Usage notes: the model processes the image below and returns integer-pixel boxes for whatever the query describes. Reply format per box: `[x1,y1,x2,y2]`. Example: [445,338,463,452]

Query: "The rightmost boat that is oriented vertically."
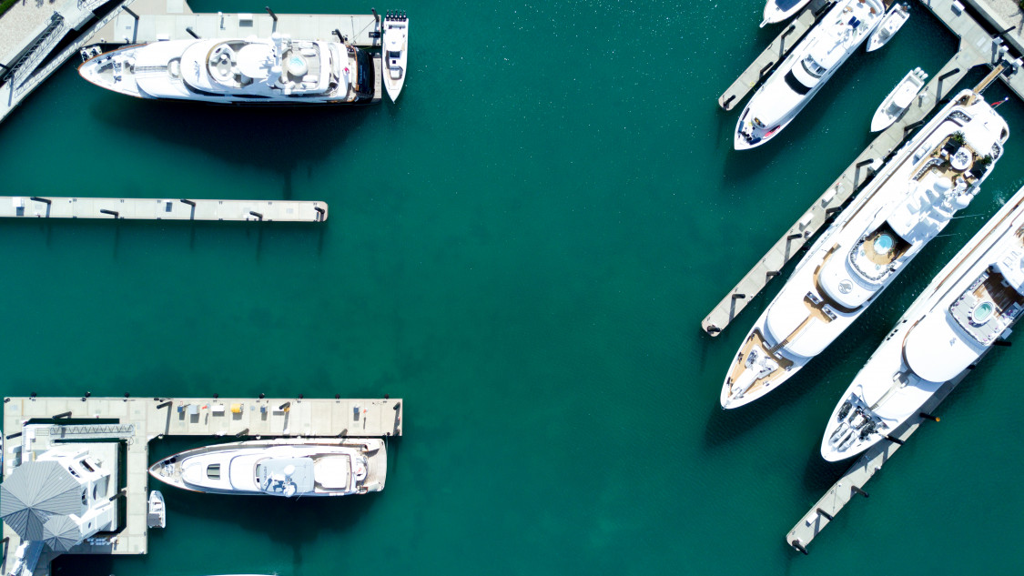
[380,12,407,98]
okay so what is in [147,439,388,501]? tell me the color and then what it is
white boat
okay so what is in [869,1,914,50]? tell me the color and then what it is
white boat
